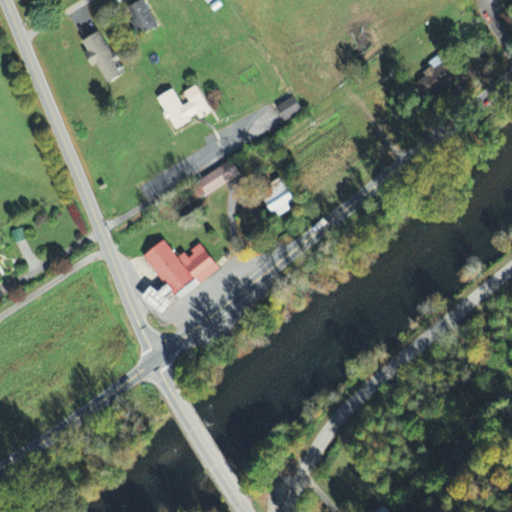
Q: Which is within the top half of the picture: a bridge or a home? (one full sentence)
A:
Visible within the top half of the picture is a home.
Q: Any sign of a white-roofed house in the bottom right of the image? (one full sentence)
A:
No, there's no white-roofed house to be seen in the bottom right of the image.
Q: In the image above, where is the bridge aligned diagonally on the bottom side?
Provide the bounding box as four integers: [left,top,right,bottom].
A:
[163,387,252,512]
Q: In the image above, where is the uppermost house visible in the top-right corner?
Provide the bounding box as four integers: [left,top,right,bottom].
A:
[418,54,450,90]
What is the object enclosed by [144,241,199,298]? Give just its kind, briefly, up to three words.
building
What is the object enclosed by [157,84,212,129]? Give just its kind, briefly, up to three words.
house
